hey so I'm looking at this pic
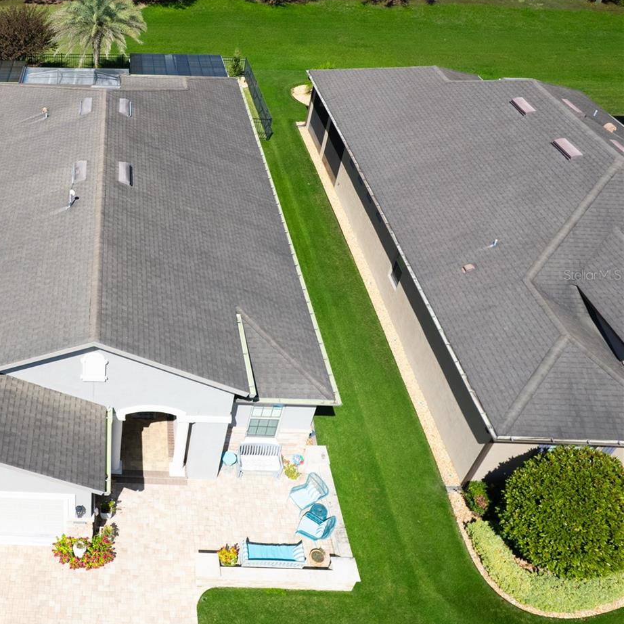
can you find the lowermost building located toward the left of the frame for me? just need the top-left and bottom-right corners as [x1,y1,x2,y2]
[0,77,341,550]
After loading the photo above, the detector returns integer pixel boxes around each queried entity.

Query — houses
[310,68,624,484]
[0,77,341,550]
